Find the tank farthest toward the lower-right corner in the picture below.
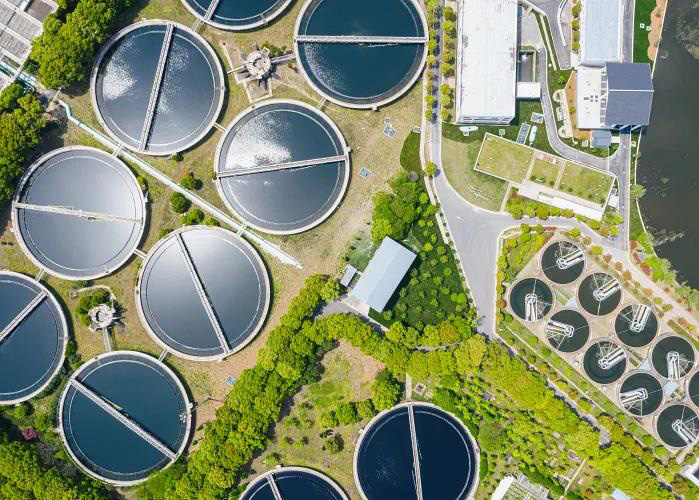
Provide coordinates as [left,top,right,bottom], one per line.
[652,399,699,450]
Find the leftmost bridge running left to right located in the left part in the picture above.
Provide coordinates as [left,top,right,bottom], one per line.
[12,202,142,223]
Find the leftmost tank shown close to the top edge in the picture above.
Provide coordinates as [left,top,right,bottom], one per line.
[90,20,225,155]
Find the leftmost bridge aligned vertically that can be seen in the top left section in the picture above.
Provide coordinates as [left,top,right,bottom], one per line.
[139,20,173,152]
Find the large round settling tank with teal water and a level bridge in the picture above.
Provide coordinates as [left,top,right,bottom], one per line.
[294,0,427,111]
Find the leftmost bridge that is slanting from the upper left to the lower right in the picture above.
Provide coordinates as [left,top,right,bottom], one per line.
[70,376,177,462]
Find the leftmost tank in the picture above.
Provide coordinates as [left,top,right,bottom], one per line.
[0,270,70,405]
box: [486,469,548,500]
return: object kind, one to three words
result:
building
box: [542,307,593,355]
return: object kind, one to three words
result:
storage tank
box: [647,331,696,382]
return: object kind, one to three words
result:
storage tank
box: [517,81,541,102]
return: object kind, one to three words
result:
shed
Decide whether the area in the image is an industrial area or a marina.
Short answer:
industrial area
